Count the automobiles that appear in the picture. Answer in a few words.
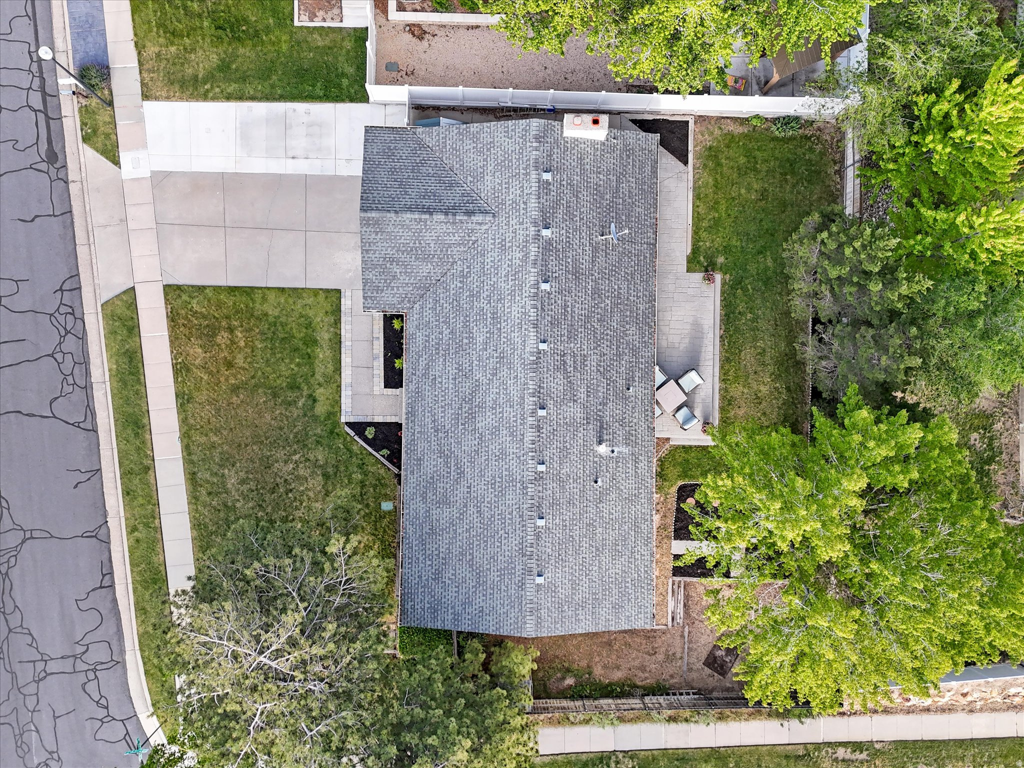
0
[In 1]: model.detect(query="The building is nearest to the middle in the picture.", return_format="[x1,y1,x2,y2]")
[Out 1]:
[358,114,660,639]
